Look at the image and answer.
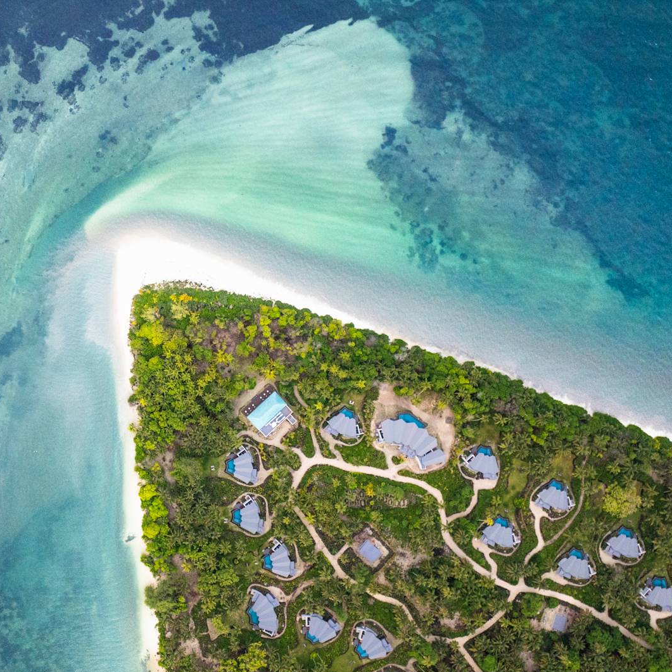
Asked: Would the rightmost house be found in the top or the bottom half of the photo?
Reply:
bottom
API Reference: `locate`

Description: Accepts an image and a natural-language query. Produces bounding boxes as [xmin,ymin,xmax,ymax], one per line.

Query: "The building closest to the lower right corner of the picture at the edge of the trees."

[639,575,672,610]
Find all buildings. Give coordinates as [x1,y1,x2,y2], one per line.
[247,589,284,636]
[350,628,391,660]
[327,404,367,437]
[552,614,569,632]
[241,386,297,437]
[360,540,381,560]
[639,575,672,610]
[260,540,294,578]
[299,613,340,646]
[481,514,522,547]
[535,476,576,511]
[604,525,647,558]
[230,496,265,534]
[224,445,258,483]
[376,411,446,469]
[463,443,500,478]
[554,545,596,578]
